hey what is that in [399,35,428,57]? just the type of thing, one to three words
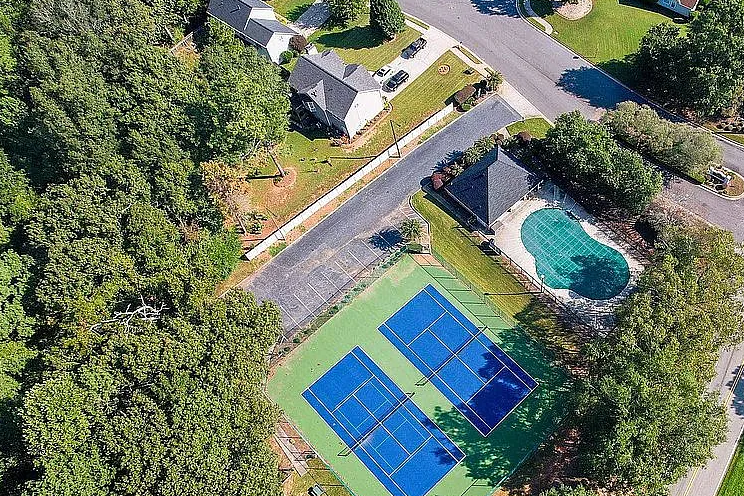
truck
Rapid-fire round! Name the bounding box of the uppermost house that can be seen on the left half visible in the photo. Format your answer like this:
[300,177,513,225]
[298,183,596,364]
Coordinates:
[206,0,298,64]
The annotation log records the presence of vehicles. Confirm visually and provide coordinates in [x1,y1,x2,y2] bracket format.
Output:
[372,62,394,81]
[382,68,409,90]
[399,35,428,57]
